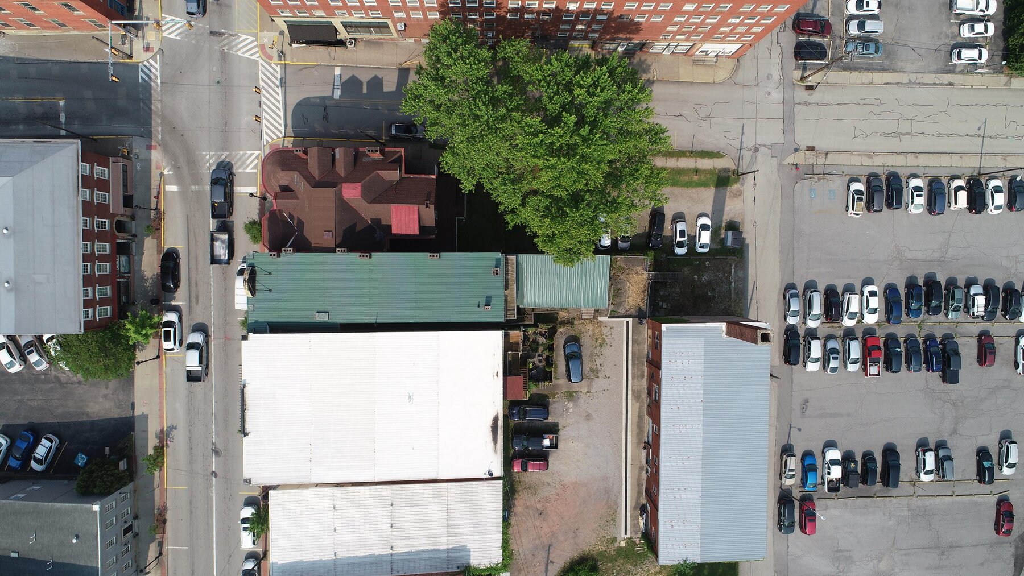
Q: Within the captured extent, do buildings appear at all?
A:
Yes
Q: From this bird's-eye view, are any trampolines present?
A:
No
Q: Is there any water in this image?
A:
No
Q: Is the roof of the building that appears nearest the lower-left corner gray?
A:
Yes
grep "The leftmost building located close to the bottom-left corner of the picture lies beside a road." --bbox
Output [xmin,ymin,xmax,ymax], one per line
[0,482,139,576]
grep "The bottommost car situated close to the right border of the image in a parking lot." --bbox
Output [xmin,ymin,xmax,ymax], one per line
[991,498,1012,535]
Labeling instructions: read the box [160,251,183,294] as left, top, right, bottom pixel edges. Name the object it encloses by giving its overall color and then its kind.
black car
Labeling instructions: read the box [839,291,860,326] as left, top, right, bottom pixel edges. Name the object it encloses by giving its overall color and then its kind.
white car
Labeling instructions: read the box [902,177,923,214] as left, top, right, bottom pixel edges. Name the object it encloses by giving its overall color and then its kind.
white car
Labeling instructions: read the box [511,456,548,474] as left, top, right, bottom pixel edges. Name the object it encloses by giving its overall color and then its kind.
red car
